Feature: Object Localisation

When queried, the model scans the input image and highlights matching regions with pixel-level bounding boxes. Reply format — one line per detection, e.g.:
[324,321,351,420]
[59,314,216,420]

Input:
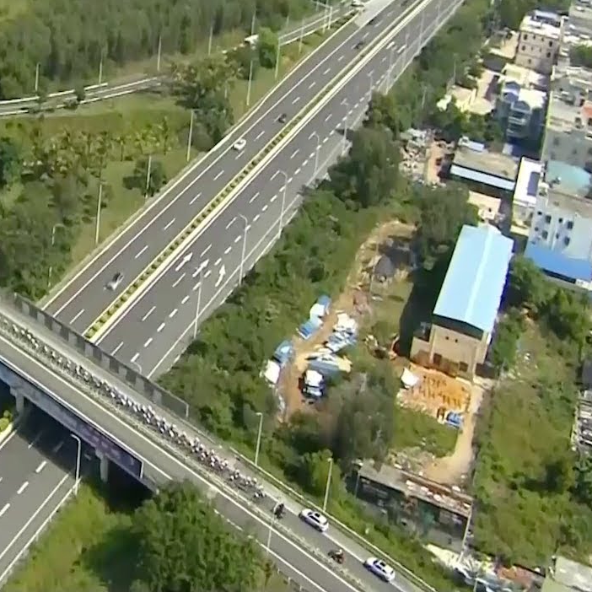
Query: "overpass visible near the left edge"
[0,290,236,486]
